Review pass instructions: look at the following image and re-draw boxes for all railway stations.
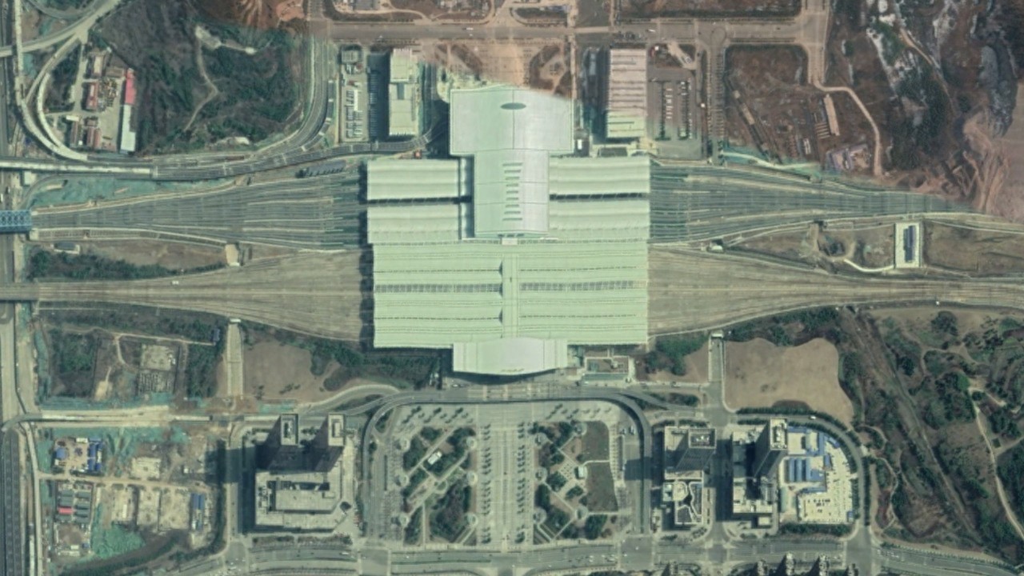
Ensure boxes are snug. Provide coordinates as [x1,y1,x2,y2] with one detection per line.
[367,85,650,383]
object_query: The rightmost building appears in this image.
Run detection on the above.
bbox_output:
[903,226,916,262]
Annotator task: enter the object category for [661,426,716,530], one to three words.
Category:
building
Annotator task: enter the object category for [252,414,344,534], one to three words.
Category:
building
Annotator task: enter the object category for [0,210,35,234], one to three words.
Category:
bridge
